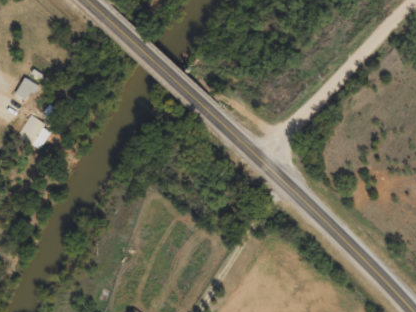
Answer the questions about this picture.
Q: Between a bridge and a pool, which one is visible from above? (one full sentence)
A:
It is a bridge that can be seen here.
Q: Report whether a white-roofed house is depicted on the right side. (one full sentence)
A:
No, no white-roofed house can be made out on the right side.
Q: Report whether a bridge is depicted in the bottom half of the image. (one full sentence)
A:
No, no bridge can be made out in the bottom half of the image.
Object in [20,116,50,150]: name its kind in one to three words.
house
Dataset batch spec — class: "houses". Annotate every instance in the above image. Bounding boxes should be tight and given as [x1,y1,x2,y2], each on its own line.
[14,76,40,103]
[20,116,50,150]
